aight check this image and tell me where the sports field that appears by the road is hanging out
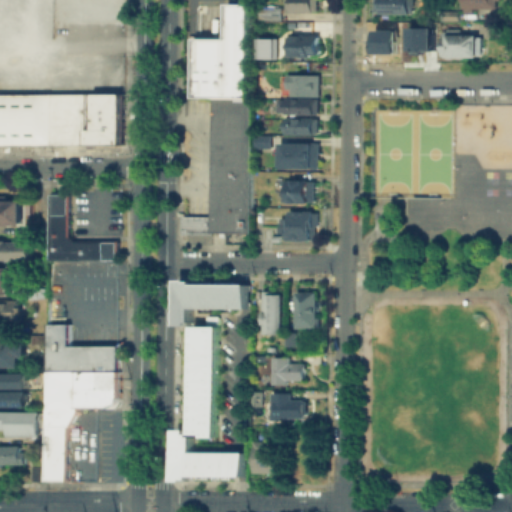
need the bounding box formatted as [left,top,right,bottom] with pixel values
[368,306,498,476]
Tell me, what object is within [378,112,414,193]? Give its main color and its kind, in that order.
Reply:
green sports court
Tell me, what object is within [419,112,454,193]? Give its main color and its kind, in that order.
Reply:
green sports court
